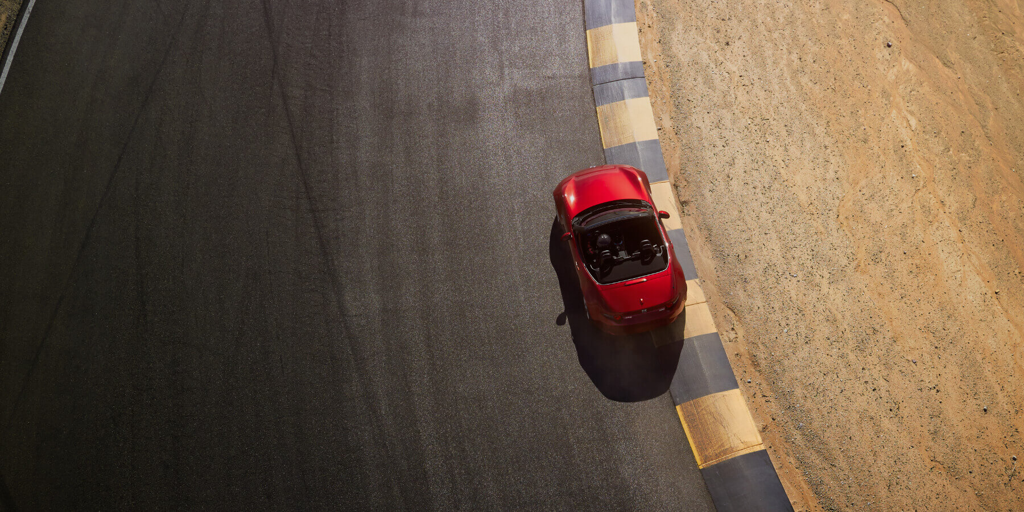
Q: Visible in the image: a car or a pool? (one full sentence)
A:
Of the two, only a car appears.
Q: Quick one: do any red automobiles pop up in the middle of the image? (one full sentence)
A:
Yes, looking in the middle of the image, one can make out a red automobile.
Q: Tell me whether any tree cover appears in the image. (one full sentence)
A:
No, there is no tree cover in the image.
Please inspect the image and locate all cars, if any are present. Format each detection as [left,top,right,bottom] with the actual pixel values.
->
[554,164,687,340]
